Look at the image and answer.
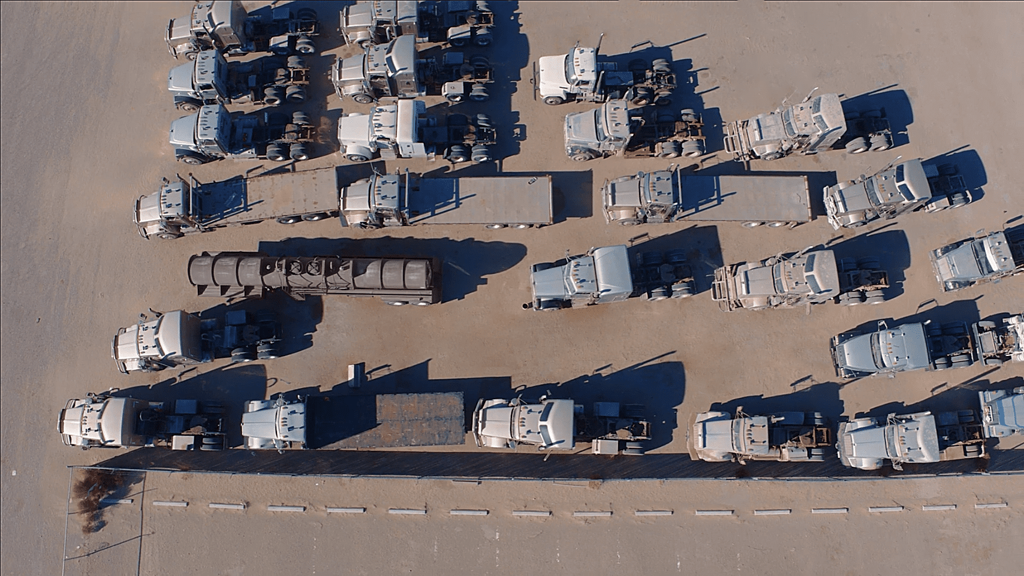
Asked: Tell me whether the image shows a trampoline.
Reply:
No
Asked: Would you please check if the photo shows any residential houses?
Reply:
No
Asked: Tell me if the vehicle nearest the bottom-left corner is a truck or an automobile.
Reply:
truck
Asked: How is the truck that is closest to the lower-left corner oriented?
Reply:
horizontally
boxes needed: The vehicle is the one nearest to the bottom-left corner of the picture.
[54,388,231,455]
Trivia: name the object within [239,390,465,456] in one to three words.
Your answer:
truck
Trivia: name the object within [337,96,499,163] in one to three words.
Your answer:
truck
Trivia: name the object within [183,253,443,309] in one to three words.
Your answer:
trailer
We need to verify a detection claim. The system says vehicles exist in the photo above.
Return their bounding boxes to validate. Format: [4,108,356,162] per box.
[109,309,286,373]
[132,165,341,240]
[170,43,313,112]
[824,321,983,385]
[718,246,892,312]
[337,96,499,163]
[170,96,319,163]
[239,390,465,456]
[928,228,1024,294]
[339,0,498,52]
[732,86,895,162]
[471,390,654,457]
[971,379,1024,439]
[600,160,814,227]
[54,388,231,455]
[527,245,698,311]
[684,403,834,470]
[817,154,980,231]
[561,92,708,160]
[833,408,995,475]
[338,163,555,230]
[163,0,323,62]
[530,27,679,108]
[331,30,497,104]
